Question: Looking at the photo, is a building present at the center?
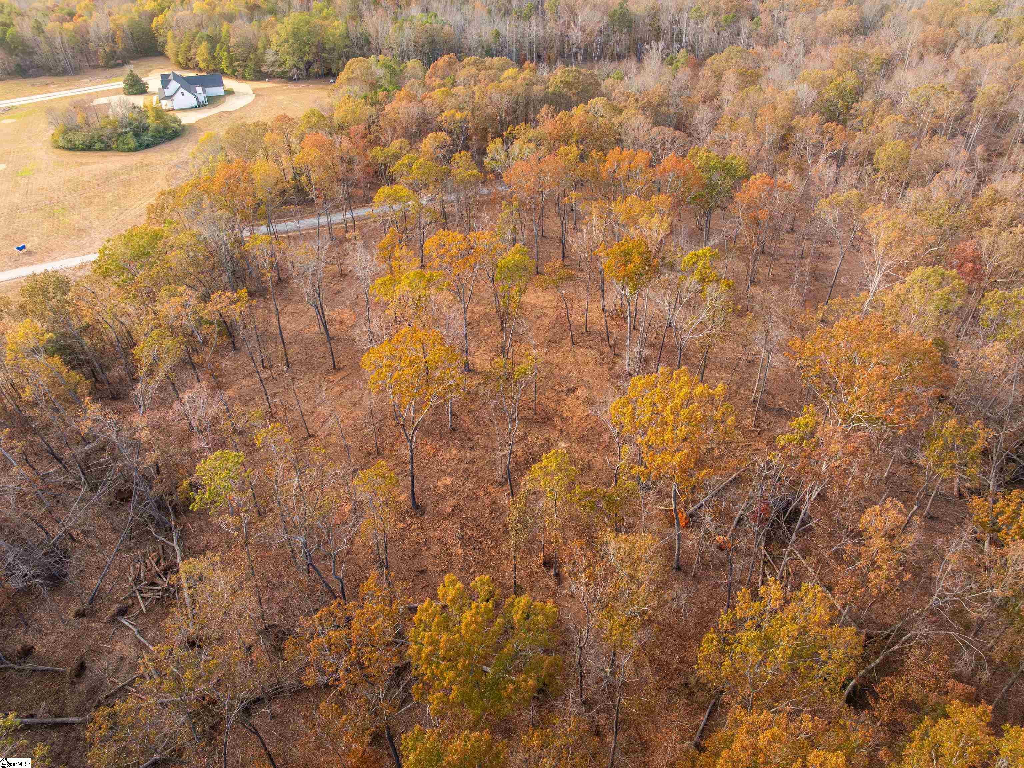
No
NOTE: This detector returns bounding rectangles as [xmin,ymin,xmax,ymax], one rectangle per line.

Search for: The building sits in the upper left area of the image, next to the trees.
[148,71,224,110]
